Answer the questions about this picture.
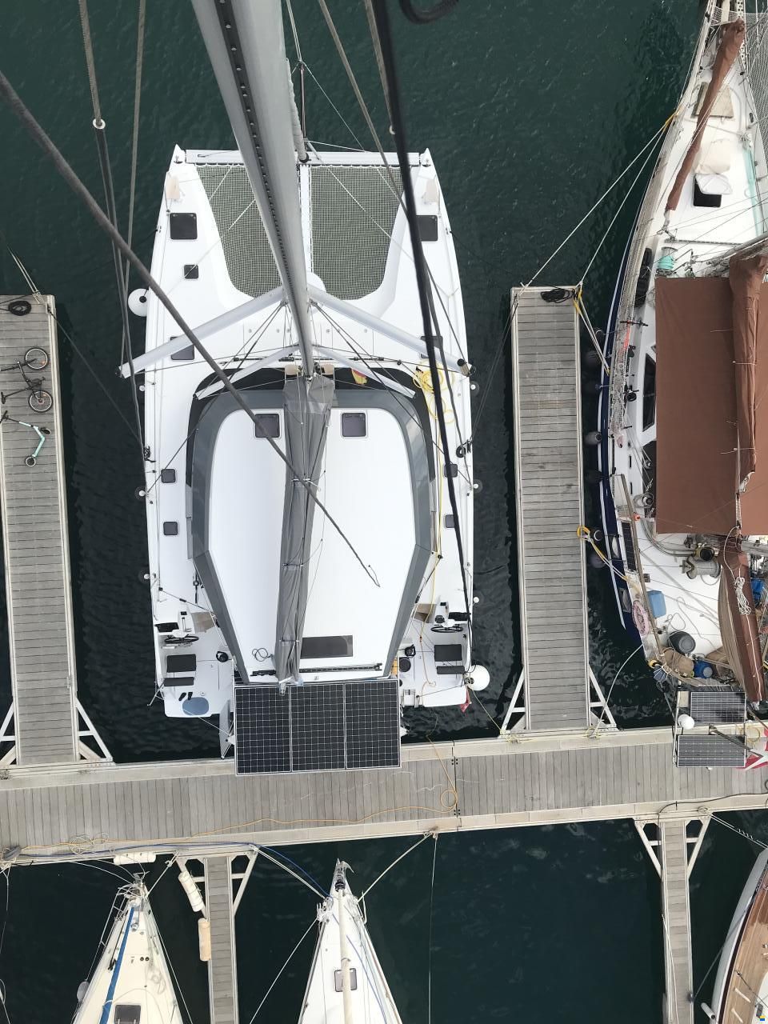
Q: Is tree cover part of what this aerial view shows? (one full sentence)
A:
No, there is no tree cover in the image.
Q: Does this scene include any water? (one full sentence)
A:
Yes, water can be seen from above here.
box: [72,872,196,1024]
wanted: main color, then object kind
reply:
white boat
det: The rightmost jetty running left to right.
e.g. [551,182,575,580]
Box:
[451,714,768,831]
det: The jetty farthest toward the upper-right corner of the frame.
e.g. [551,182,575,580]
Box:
[501,284,617,733]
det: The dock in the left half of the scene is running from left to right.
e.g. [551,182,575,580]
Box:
[0,733,458,868]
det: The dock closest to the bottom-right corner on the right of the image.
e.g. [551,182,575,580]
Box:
[634,814,711,1024]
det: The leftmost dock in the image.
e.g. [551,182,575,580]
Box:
[0,292,113,767]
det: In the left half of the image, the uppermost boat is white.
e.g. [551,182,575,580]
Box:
[76,0,475,773]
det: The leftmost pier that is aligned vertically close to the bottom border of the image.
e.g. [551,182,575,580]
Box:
[175,849,258,1024]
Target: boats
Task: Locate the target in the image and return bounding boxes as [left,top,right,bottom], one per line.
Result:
[294,856,405,1024]
[595,0,768,773]
[72,872,196,1024]
[76,0,475,773]
[712,853,768,1024]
